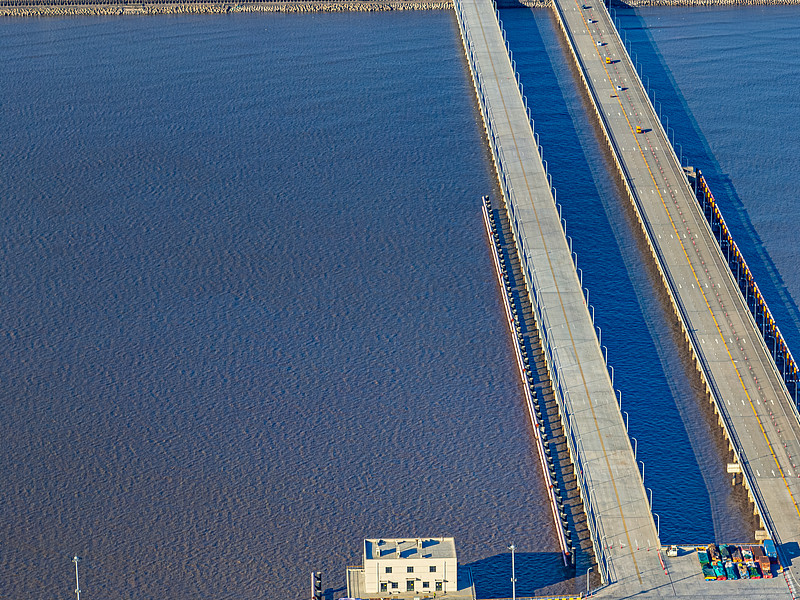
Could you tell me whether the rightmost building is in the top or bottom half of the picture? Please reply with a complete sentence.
The rightmost building sits in the bottom half of the picture.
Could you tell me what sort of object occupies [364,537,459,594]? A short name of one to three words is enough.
building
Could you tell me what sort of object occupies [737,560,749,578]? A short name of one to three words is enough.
vehicle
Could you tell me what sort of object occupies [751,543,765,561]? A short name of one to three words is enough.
vehicle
